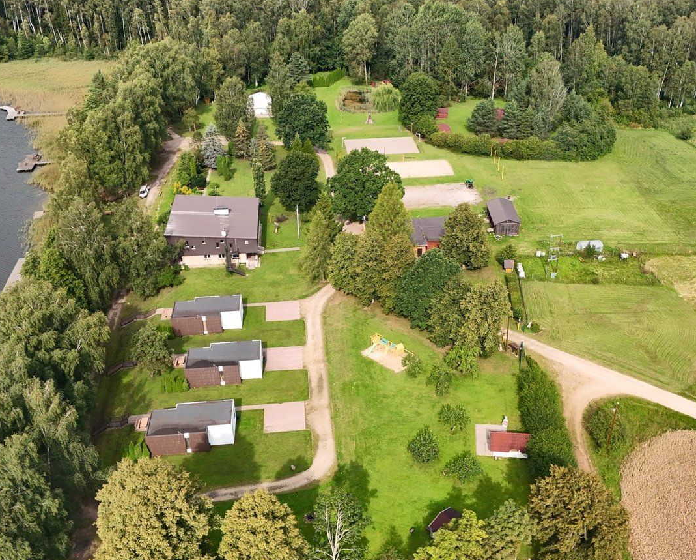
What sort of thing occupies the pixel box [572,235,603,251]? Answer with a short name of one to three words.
greenhouse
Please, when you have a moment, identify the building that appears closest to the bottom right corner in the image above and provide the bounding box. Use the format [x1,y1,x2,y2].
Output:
[488,422,534,459]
